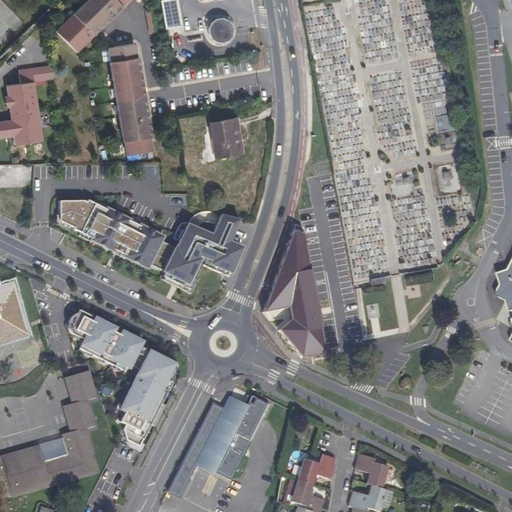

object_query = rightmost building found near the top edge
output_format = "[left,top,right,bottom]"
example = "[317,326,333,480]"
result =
[205,17,236,48]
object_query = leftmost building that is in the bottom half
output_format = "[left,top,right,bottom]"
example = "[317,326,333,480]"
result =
[0,277,35,347]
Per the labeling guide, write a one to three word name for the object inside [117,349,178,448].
building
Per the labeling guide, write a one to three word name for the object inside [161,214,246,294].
building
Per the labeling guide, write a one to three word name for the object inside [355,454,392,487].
house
